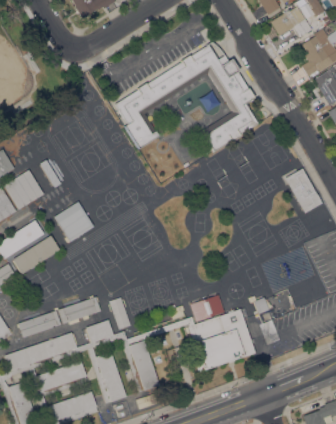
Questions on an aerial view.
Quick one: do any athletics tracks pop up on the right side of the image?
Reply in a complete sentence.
No, no athletics track is visible on the right side of the image.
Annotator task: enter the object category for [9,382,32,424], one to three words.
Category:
building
